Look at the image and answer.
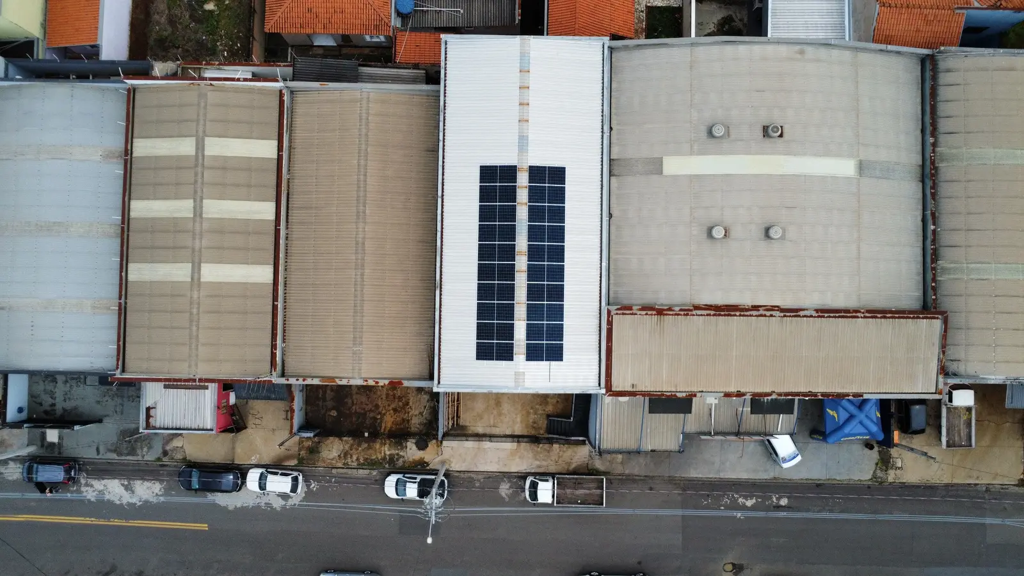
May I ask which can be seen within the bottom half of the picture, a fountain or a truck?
truck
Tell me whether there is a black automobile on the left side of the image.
Yes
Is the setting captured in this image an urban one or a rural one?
urban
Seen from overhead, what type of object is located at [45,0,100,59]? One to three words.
house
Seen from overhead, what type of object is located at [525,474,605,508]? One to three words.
truck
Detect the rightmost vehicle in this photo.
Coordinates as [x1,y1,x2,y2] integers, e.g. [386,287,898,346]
[936,380,976,450]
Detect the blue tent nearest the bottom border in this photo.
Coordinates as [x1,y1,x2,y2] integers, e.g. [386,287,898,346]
[805,398,883,443]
